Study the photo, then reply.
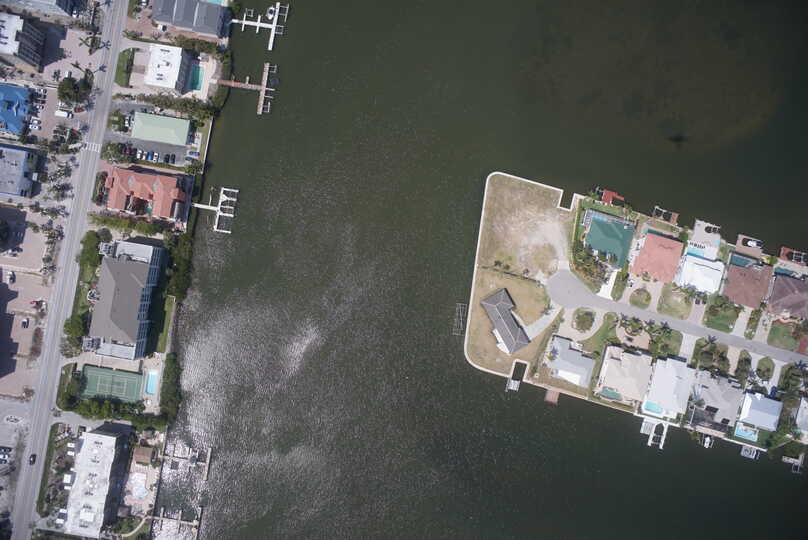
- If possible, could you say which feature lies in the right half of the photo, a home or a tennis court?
home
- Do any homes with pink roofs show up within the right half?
Yes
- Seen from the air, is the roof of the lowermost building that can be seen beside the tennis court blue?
No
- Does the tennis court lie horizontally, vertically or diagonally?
horizontally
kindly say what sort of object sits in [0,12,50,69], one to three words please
building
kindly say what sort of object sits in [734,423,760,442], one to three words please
swimming pool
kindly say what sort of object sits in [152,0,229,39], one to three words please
house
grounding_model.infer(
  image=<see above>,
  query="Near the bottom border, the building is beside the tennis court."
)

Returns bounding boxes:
[65,426,131,538]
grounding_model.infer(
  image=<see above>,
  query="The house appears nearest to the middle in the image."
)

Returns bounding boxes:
[481,288,529,354]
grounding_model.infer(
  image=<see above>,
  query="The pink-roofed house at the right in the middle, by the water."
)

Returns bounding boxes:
[628,234,684,283]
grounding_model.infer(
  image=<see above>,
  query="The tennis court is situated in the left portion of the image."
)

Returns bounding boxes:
[78,365,143,403]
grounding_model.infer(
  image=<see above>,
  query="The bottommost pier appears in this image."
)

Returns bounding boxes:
[148,506,204,540]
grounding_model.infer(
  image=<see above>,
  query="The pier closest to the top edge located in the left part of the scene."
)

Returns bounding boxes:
[230,1,281,51]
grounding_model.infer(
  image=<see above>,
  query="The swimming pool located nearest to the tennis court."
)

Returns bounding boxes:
[144,373,159,396]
